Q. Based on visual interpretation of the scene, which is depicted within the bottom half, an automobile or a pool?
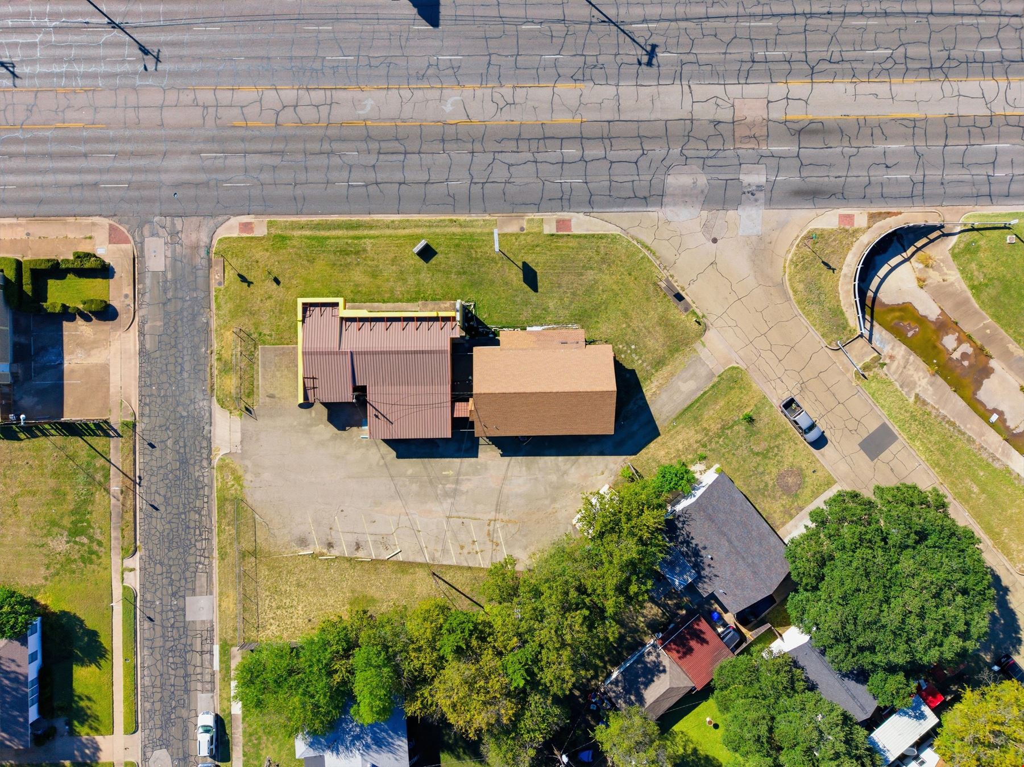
automobile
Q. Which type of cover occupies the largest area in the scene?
paved ground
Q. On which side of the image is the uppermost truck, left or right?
right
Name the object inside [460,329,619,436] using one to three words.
building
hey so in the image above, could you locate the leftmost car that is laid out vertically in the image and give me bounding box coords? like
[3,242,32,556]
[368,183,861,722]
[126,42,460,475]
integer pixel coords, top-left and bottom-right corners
[193,713,215,763]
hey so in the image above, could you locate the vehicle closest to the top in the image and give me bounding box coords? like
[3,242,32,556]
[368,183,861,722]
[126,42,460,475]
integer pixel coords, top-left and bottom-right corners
[782,394,824,443]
